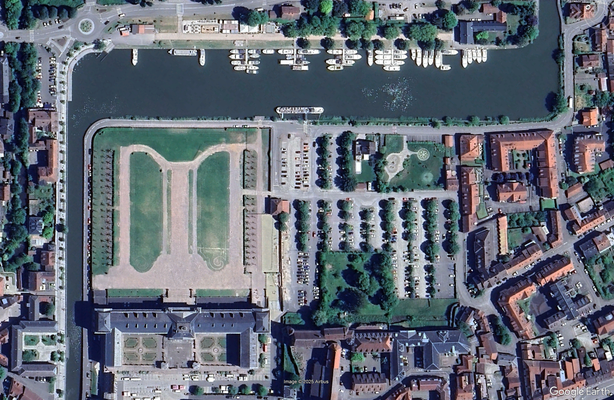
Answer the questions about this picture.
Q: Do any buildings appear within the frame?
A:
Yes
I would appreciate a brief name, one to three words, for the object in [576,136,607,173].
house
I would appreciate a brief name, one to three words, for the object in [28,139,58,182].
building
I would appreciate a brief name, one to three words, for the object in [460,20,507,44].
building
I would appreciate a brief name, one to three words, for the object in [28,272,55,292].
house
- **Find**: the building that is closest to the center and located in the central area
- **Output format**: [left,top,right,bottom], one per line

[270,198,290,214]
